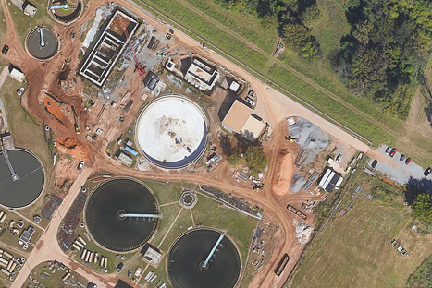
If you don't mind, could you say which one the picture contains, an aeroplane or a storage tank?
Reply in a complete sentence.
It is a storage tank that can be seen here.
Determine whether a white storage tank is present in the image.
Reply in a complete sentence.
Yes, the image includes a white storage tank.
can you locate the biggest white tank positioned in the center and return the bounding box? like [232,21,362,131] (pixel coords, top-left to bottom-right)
[134,94,209,170]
